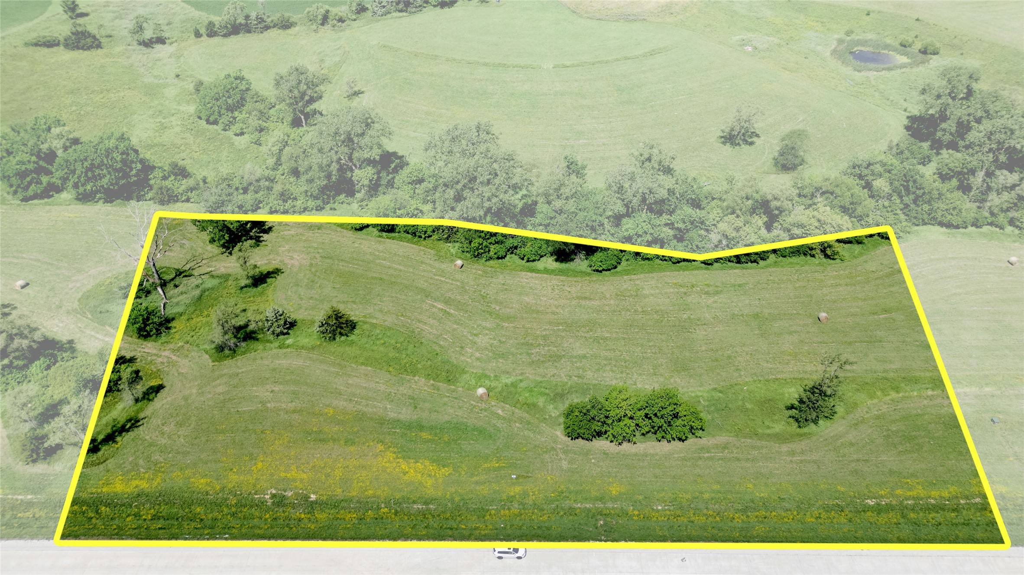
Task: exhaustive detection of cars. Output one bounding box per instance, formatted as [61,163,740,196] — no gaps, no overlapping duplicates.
[492,541,527,559]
